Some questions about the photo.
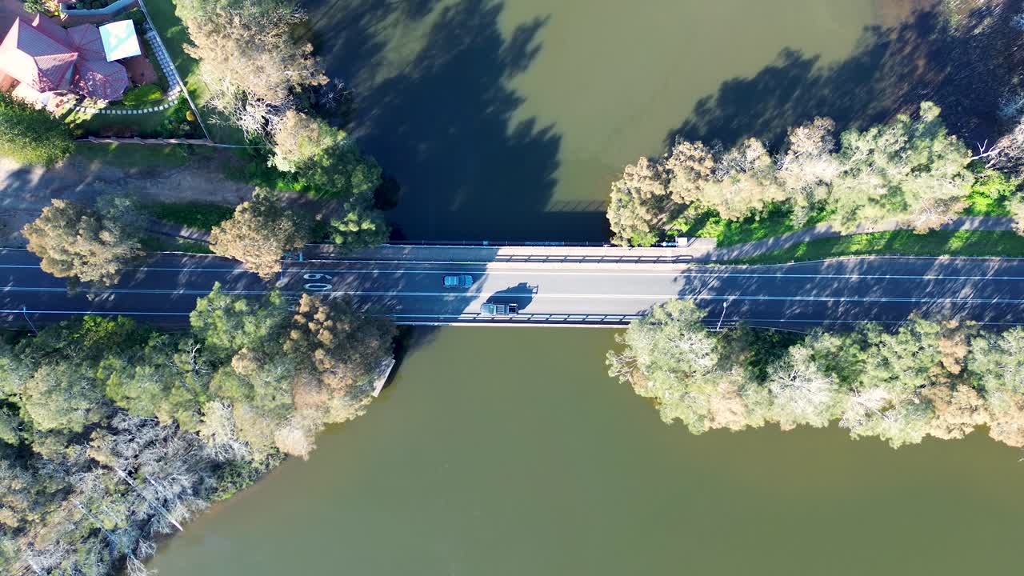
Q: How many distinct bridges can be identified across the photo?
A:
1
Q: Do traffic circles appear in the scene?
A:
No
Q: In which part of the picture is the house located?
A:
top left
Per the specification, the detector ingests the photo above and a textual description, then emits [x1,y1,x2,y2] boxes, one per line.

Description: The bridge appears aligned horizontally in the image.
[282,239,728,330]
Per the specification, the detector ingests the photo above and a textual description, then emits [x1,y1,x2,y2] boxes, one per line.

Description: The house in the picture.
[0,8,133,103]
